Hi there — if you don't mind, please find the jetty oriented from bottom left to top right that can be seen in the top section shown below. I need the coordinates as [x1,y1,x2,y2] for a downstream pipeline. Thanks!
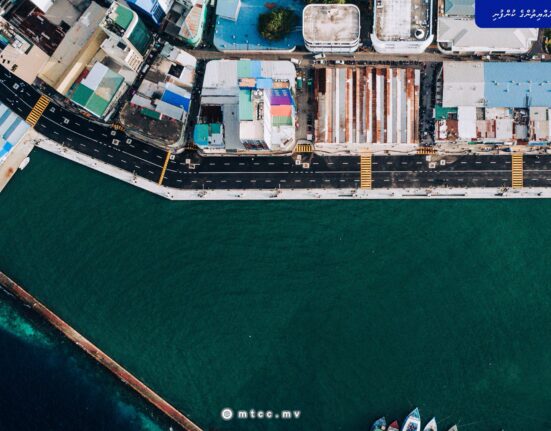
[0,133,38,197]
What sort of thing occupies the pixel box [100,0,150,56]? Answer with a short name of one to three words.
building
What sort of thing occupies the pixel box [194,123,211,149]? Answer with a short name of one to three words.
house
